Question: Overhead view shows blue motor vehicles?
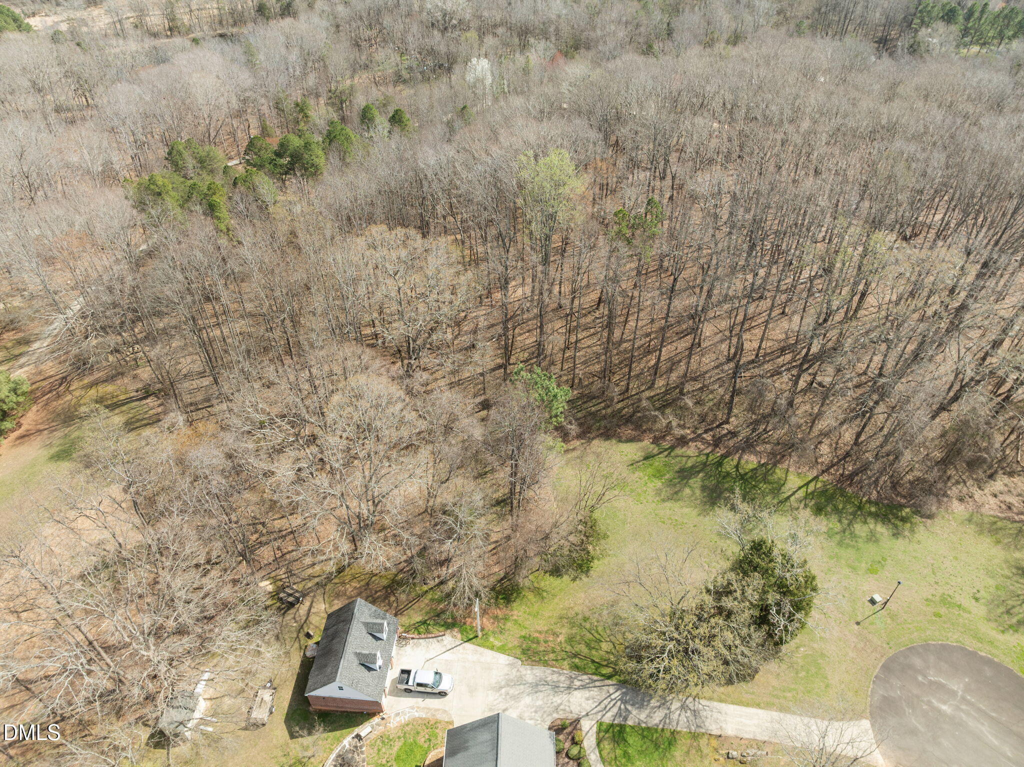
No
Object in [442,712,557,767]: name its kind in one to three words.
house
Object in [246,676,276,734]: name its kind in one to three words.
trailer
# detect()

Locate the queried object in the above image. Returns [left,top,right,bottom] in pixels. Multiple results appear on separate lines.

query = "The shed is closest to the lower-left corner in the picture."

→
[153,690,206,743]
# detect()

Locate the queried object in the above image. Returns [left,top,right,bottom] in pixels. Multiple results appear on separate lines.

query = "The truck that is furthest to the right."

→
[397,669,455,696]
